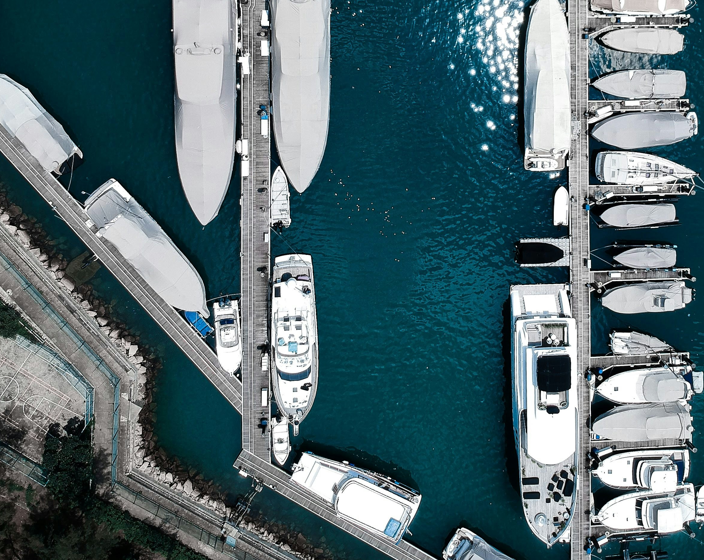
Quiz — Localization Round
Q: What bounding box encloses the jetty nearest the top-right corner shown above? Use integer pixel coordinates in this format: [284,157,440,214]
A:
[589,15,689,36]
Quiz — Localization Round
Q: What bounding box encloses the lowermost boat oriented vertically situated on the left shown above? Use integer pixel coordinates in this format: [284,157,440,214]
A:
[273,413,289,465]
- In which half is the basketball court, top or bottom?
bottom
